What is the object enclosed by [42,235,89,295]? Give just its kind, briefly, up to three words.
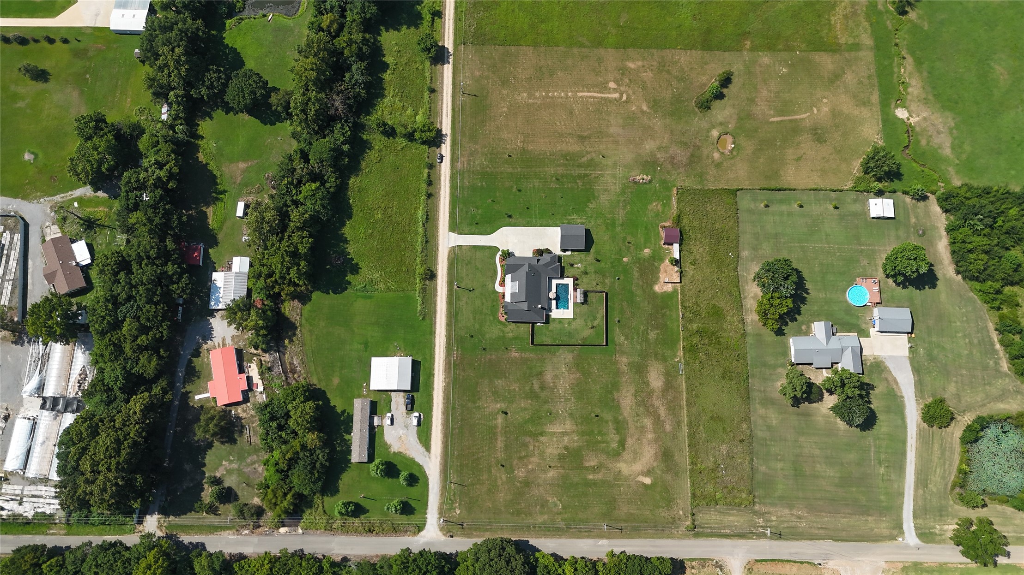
house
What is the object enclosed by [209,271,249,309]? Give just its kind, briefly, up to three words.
barn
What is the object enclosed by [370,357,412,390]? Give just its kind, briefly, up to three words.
building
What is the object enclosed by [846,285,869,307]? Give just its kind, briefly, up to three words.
swimming pool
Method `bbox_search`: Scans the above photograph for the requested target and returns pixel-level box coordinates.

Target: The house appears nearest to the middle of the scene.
[504,253,560,322]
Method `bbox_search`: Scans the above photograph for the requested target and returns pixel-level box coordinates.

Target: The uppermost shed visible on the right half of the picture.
[866,198,895,219]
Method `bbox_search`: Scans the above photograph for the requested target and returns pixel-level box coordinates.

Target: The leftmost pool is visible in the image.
[556,284,569,310]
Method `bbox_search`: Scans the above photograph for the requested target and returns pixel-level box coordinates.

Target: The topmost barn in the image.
[109,0,152,35]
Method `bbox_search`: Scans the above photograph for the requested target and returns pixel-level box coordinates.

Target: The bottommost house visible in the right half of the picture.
[790,321,862,373]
